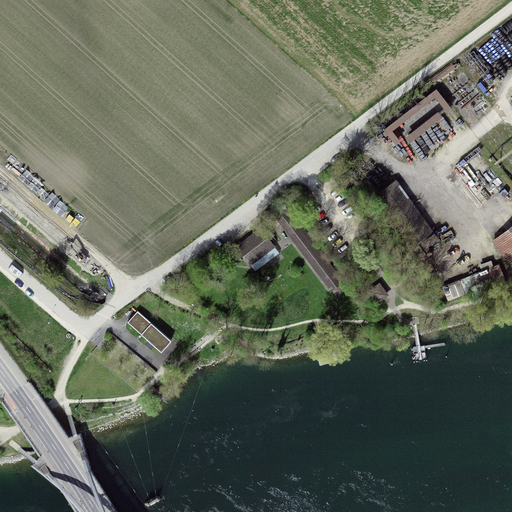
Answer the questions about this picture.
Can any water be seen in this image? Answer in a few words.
Yes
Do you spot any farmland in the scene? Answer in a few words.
Yes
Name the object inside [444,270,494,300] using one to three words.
building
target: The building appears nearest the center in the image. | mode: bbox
[235,230,278,272]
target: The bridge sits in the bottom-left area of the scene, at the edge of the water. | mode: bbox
[0,346,114,512]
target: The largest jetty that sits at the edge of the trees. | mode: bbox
[411,316,446,362]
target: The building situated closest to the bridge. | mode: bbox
[128,311,171,353]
